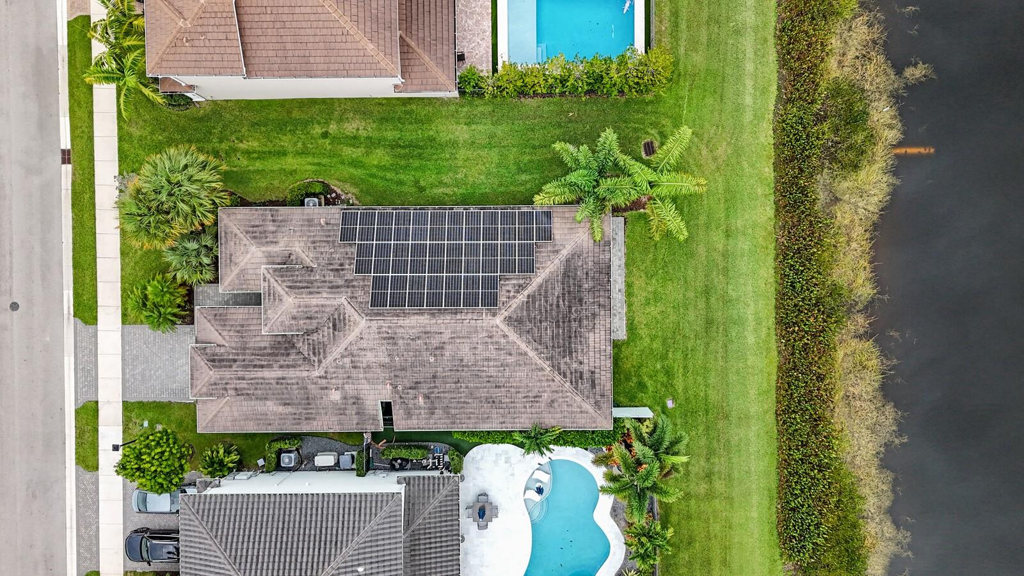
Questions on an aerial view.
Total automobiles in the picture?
2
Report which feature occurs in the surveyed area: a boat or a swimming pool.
swimming pool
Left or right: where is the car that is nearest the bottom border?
left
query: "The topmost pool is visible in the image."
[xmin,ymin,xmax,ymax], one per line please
[509,0,635,63]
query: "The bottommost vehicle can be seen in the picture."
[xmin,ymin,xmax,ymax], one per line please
[124,530,178,571]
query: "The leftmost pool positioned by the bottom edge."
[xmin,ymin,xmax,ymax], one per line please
[518,452,616,576]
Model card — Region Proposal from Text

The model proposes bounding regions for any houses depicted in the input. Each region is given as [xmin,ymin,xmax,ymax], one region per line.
[188,205,614,434]
[144,0,459,105]
[178,469,462,576]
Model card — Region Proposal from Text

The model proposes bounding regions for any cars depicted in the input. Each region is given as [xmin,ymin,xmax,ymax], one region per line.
[131,483,195,520]
[124,530,178,571]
